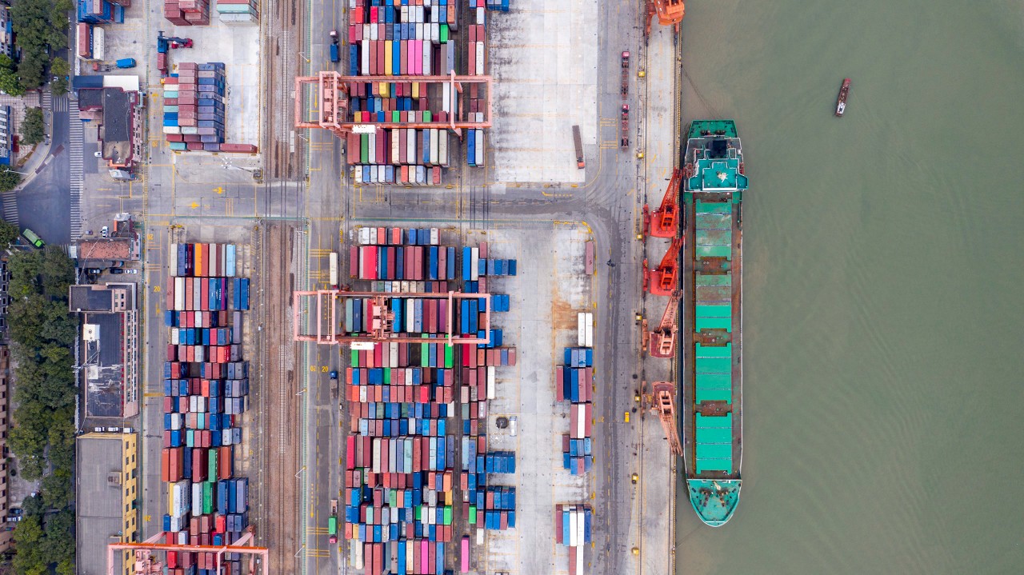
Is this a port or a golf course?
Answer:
port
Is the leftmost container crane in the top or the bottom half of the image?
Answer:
bottom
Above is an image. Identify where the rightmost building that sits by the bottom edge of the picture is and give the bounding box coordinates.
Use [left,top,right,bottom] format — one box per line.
[76,432,140,575]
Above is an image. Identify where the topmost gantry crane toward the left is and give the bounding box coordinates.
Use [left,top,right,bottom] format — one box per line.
[296,70,492,149]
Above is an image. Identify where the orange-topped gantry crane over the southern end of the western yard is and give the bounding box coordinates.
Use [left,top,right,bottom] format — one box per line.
[108,521,271,575]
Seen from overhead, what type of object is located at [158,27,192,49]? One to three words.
work vehicle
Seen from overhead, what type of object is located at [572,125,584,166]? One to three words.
vehicle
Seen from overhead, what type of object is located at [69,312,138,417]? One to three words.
building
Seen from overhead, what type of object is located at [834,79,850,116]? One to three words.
boat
